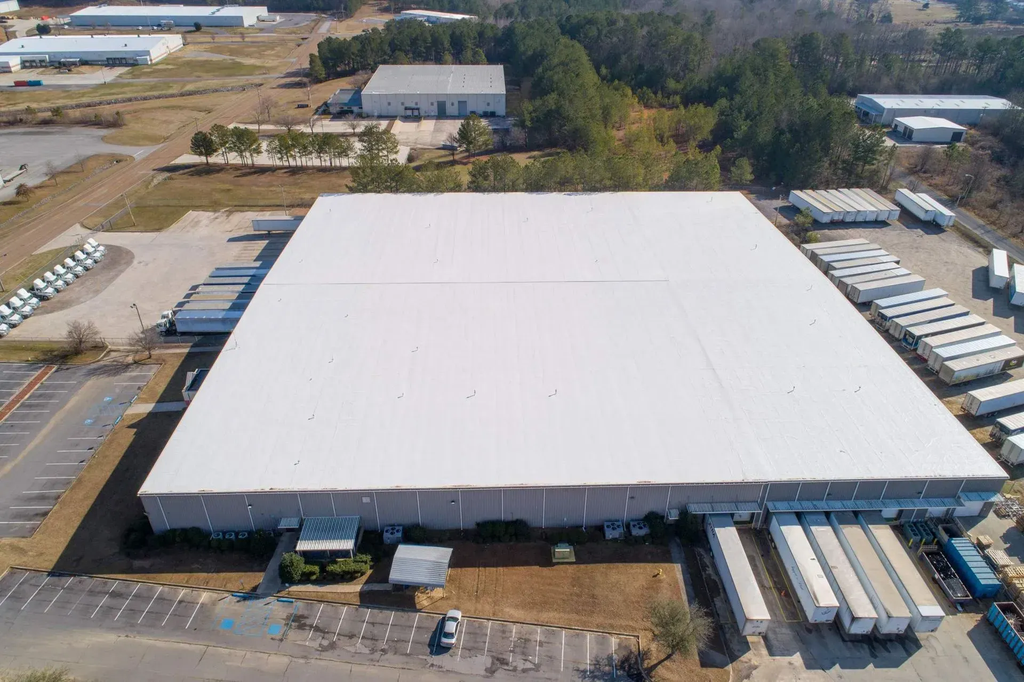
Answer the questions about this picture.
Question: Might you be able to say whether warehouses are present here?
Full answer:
Yes, the image includes a warehouse.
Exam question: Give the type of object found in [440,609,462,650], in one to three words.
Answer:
car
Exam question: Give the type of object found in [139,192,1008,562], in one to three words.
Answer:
warehouse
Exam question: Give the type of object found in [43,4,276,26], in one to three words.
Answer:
building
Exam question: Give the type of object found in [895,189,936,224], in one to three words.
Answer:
trailer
